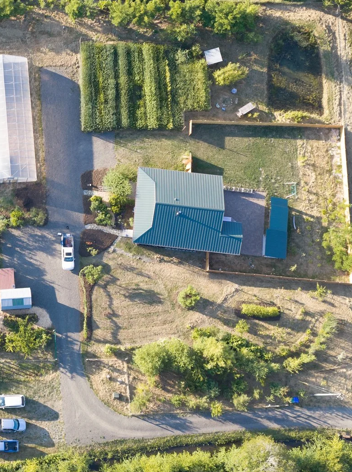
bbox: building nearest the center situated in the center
[134,167,244,255]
